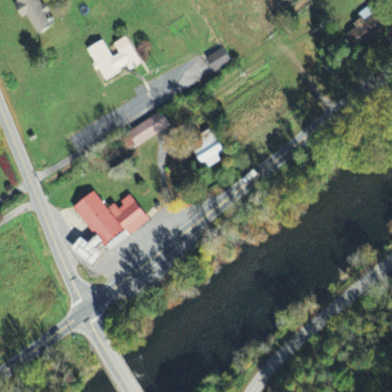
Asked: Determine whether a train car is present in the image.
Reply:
No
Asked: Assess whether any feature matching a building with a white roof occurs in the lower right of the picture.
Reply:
No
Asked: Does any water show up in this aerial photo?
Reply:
Yes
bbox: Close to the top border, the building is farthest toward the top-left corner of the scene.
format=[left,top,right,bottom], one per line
[16,0,54,34]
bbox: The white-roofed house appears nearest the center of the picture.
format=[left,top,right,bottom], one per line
[194,130,221,168]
